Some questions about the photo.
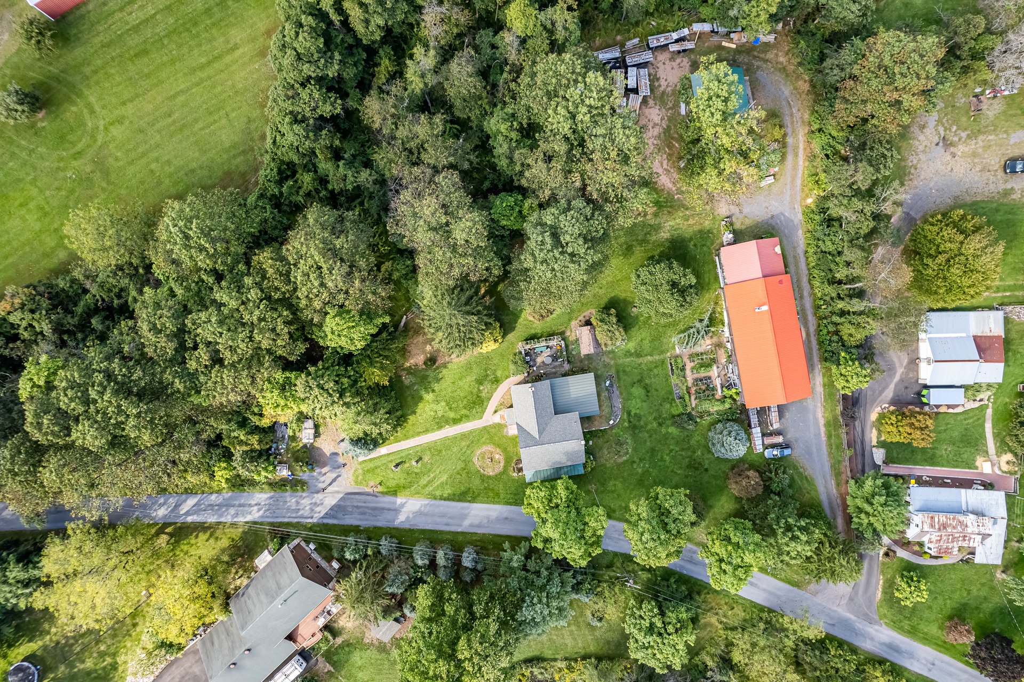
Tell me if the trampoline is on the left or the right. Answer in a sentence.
The trampoline appears in the left half of the scene.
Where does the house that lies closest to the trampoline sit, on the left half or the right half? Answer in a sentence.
The house that lies closest to the trampoline appears in the left half of the scene.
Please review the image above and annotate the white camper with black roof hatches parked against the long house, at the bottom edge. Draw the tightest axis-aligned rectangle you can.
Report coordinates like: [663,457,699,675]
[269,650,310,682]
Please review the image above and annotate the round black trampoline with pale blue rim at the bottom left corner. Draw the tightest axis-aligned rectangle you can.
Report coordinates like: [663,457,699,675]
[8,661,41,682]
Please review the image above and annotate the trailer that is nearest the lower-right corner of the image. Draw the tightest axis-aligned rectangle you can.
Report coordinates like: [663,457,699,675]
[910,388,964,405]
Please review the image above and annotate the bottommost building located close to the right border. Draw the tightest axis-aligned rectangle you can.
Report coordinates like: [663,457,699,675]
[902,486,1007,565]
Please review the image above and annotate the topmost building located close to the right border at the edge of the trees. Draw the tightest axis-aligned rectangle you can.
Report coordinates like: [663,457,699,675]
[917,311,1004,385]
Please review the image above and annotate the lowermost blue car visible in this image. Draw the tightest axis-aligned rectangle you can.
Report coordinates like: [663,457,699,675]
[766,448,793,460]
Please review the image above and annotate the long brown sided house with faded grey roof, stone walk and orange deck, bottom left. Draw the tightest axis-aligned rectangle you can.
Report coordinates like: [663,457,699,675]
[198,543,334,682]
